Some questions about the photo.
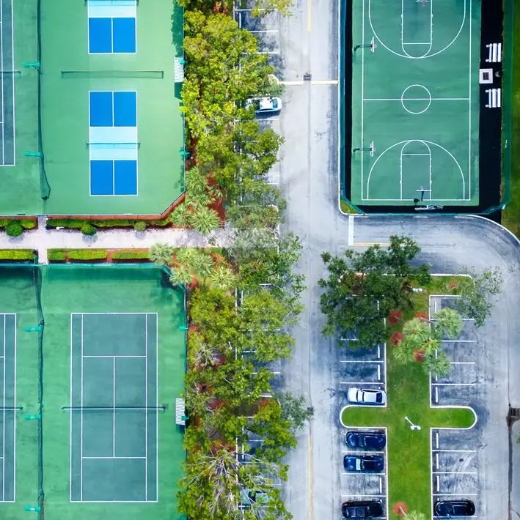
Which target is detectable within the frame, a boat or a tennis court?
tennis court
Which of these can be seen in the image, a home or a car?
car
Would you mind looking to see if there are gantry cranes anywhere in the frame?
No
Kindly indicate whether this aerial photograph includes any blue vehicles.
Yes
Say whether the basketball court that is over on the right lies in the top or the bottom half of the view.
top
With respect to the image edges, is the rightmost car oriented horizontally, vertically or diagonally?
horizontally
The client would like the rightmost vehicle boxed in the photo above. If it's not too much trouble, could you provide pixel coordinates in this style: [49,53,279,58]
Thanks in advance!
[433,498,474,519]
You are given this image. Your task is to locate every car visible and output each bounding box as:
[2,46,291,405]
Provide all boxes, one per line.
[247,96,284,113]
[346,387,385,405]
[345,431,385,450]
[342,498,383,519]
[342,455,383,473]
[433,498,474,519]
